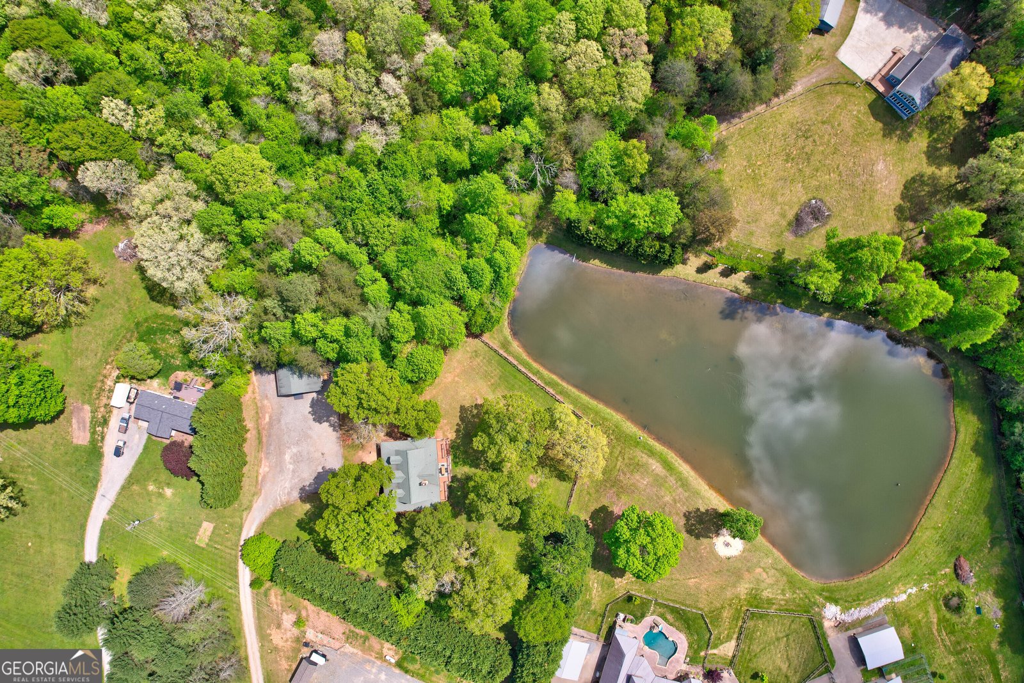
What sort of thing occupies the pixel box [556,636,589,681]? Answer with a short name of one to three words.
building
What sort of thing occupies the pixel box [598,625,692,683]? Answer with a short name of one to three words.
building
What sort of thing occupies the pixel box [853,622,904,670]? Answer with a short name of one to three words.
barn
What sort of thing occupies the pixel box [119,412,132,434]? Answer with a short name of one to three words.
vehicle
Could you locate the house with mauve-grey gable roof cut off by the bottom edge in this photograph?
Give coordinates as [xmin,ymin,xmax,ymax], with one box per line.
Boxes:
[290,655,318,683]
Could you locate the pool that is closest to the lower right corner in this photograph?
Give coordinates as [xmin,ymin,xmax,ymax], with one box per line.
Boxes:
[642,630,679,668]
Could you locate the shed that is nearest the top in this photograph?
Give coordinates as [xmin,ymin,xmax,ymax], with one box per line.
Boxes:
[808,0,843,31]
